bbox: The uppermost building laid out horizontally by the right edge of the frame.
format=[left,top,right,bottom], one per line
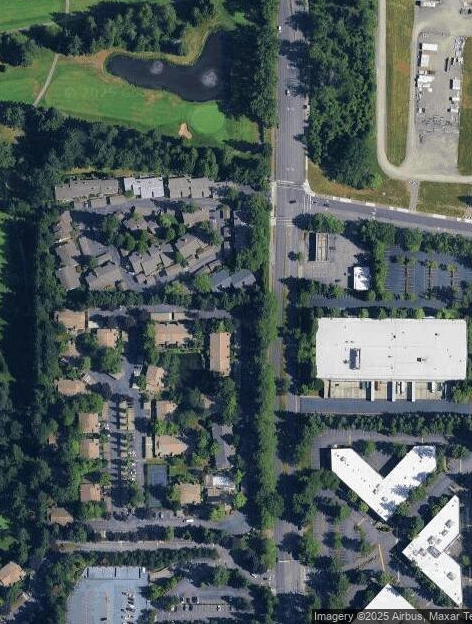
[316,318,467,384]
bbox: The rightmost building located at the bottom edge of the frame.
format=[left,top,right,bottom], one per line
[402,496,462,607]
